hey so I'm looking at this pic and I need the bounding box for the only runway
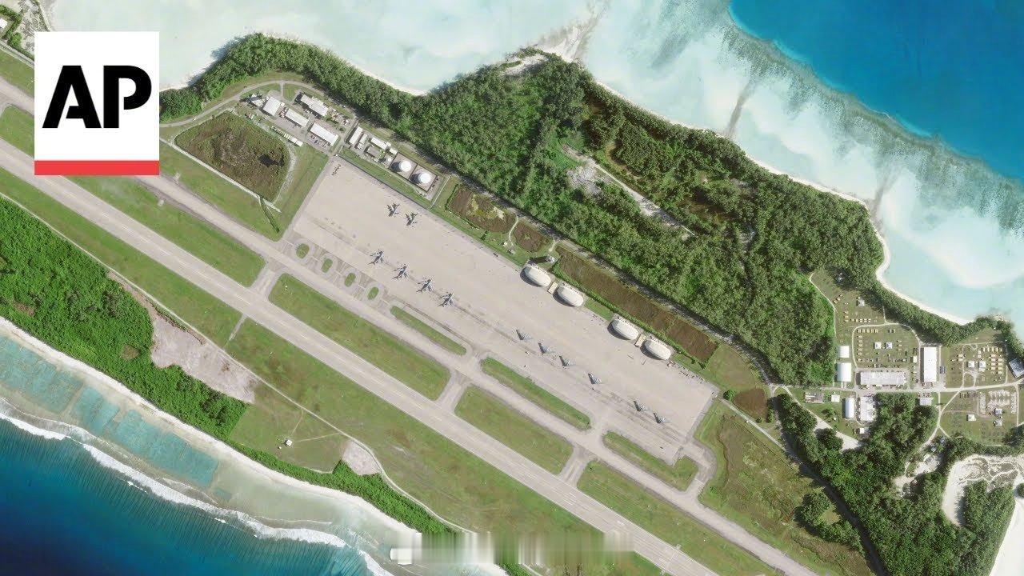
[0,139,716,576]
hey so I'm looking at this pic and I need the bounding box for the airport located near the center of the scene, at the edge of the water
[0,74,823,576]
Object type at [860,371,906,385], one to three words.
building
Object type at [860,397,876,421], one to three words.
building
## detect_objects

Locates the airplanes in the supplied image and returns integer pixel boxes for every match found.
[395,265,408,280]
[418,279,432,293]
[538,341,557,353]
[406,212,420,227]
[654,411,672,423]
[370,251,383,265]
[440,293,453,307]
[387,202,401,217]
[588,372,607,384]
[634,399,652,411]
[516,328,535,340]
[559,354,578,366]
